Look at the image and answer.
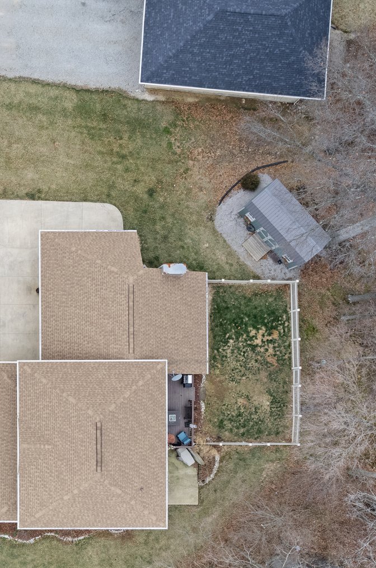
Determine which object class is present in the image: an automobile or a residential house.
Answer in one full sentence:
Looking from above, you can make out a residential house.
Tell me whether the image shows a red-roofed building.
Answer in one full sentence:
No, this view has no red-roofed building in it.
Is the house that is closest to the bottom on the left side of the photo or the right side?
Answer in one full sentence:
The house that is closest to the bottom appears in the left half of the scene.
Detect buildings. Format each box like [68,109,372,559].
[138,0,333,108]
[237,180,330,269]
[0,229,208,530]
